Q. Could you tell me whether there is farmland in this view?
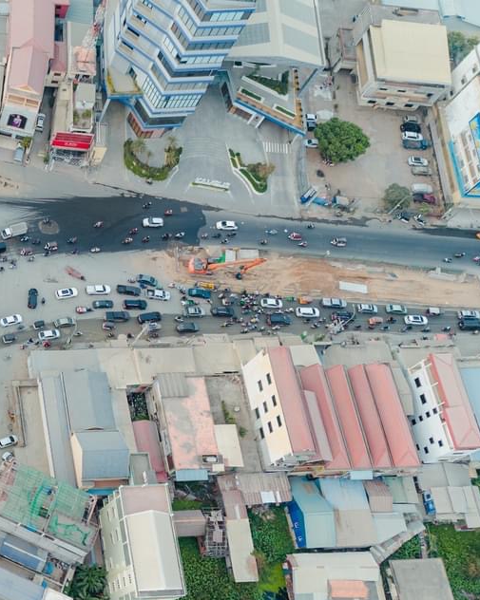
No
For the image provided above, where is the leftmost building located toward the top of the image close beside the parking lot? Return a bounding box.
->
[96,0,248,138]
